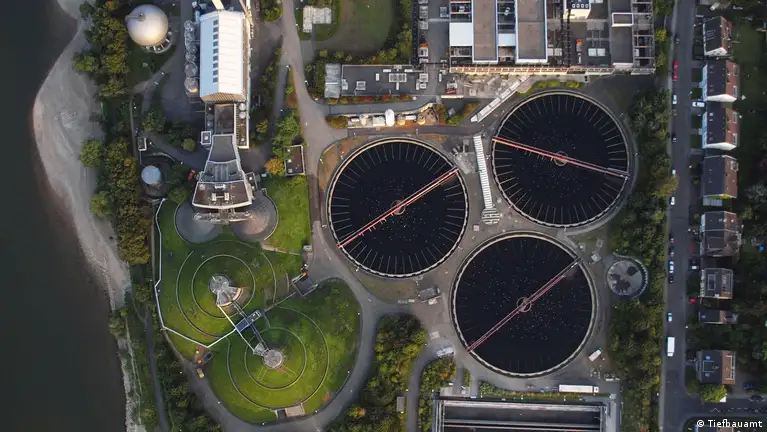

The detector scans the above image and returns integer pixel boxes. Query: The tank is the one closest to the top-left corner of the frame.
[125,4,170,51]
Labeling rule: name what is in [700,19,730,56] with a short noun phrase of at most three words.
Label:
house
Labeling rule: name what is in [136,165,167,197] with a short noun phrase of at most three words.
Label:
storage tank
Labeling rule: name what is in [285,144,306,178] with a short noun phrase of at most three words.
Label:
building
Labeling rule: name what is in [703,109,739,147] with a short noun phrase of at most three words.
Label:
house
